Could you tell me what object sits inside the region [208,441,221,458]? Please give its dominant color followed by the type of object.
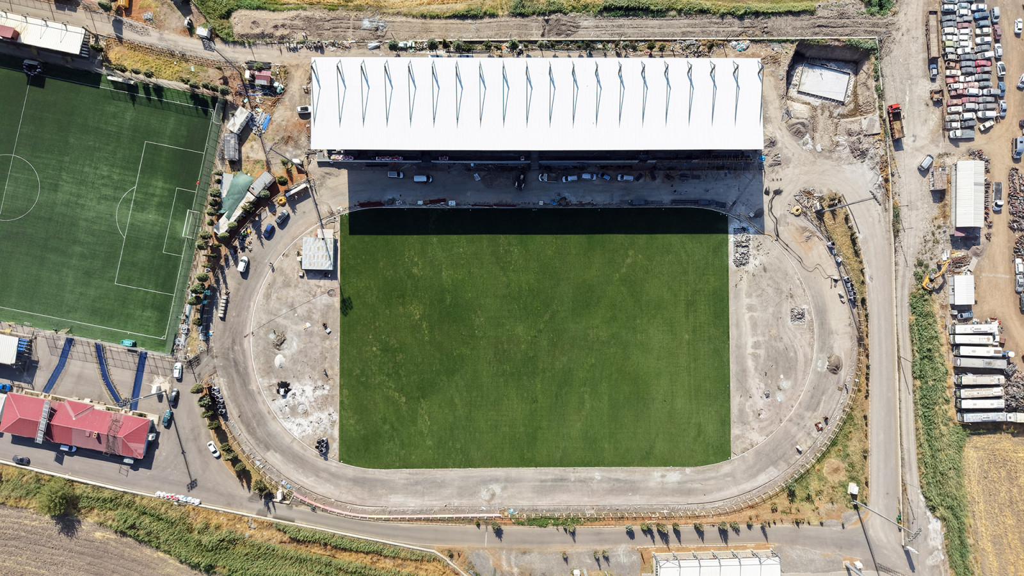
white vehicle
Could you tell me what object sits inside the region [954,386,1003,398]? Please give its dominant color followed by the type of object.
white vehicle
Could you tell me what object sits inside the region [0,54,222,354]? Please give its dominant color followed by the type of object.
green soccer field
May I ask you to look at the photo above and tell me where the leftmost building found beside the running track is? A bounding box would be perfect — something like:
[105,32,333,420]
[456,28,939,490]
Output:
[0,391,160,459]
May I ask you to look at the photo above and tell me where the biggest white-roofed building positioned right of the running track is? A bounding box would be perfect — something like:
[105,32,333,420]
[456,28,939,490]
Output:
[946,161,984,237]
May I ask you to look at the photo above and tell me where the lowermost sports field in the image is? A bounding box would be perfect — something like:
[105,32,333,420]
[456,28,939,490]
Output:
[339,207,731,468]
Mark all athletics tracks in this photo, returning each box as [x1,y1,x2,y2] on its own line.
[214,162,858,507]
